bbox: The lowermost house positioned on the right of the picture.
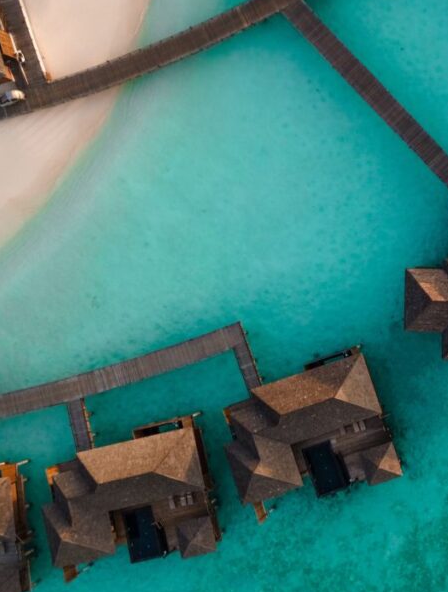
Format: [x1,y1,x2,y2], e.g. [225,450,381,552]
[219,343,403,518]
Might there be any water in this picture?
Yes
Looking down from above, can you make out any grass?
No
